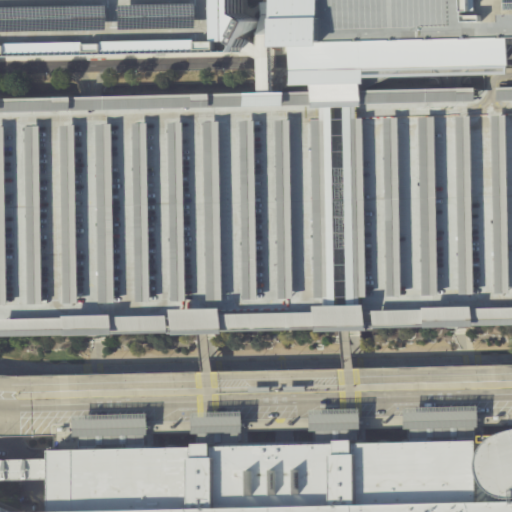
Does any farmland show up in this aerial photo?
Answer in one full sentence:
No, there's no farmland in this view.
